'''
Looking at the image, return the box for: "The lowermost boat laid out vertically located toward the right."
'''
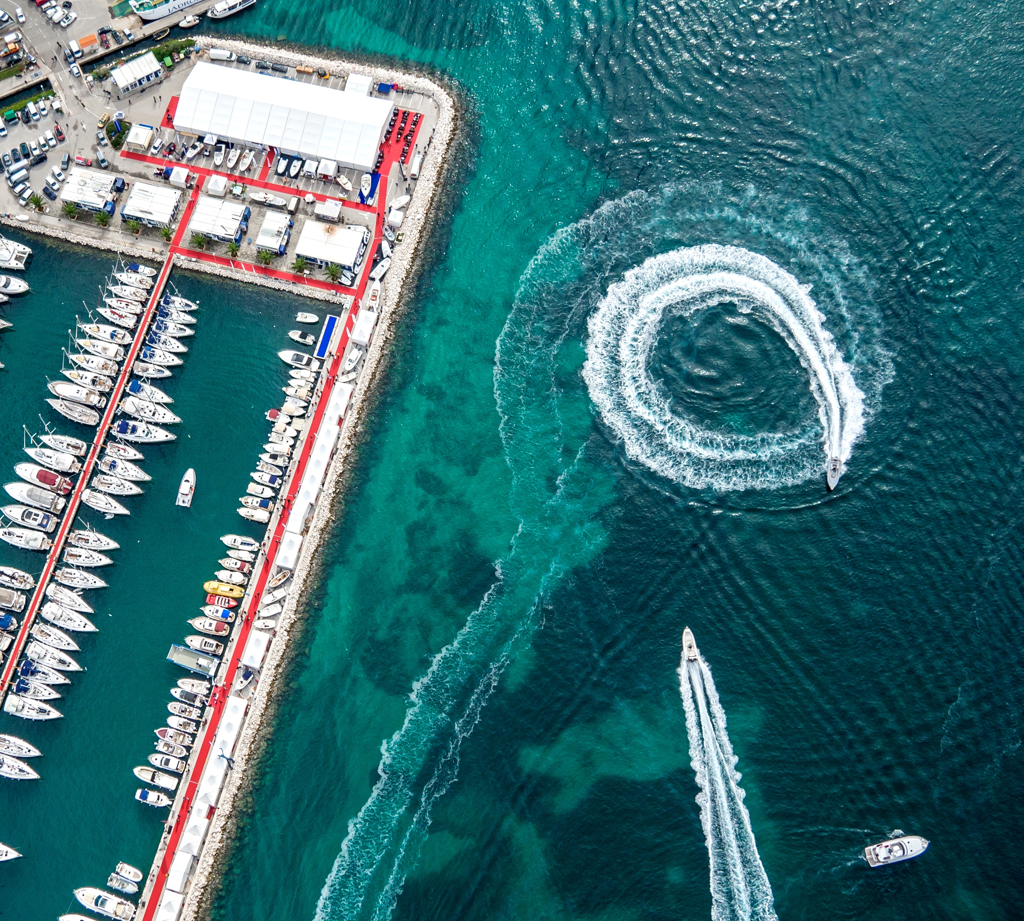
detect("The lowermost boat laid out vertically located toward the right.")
[684,626,697,662]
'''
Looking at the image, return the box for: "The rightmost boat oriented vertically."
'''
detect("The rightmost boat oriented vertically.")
[828,457,840,490]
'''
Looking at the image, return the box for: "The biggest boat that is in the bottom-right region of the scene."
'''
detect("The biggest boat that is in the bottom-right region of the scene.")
[860,837,932,868]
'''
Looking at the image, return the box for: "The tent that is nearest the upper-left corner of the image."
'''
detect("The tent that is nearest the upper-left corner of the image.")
[127,126,153,149]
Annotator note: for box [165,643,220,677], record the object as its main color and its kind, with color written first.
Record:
white ship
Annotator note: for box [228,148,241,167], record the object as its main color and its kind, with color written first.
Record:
white boat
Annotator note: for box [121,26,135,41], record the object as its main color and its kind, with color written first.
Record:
white car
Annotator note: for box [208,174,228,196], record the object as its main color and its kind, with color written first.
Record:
white tent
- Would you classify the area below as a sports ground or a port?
port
